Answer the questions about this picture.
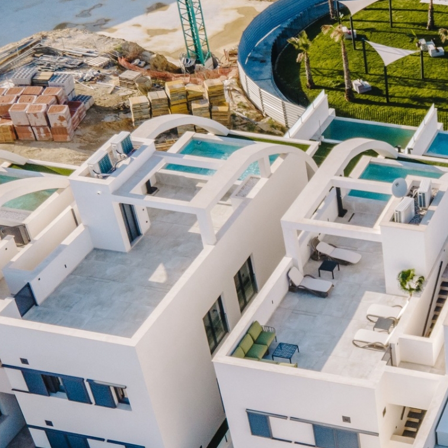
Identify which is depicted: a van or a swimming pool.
swimming pool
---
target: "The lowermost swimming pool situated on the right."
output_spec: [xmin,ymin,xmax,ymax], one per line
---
[350,161,447,198]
